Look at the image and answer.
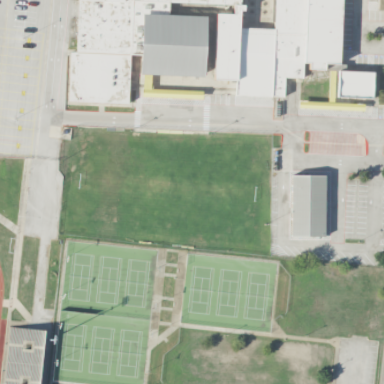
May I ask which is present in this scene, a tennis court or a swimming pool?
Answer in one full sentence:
There is a tennis court in the scene.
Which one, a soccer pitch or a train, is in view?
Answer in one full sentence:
The image shows a soccer pitch.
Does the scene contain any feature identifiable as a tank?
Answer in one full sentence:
No, the picture doesn't show any tank.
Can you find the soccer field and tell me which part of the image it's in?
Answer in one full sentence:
The soccer field appears toward the center of the photo.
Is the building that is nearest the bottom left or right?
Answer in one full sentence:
The building that is nearest the bottom sits on the right side.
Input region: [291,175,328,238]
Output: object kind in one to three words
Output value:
building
